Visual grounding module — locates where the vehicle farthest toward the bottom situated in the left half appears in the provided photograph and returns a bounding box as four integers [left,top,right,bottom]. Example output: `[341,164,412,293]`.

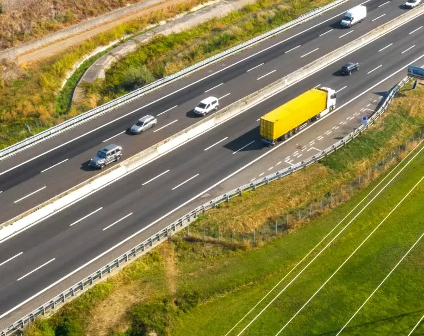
[89,144,122,169]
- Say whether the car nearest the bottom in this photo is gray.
Yes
